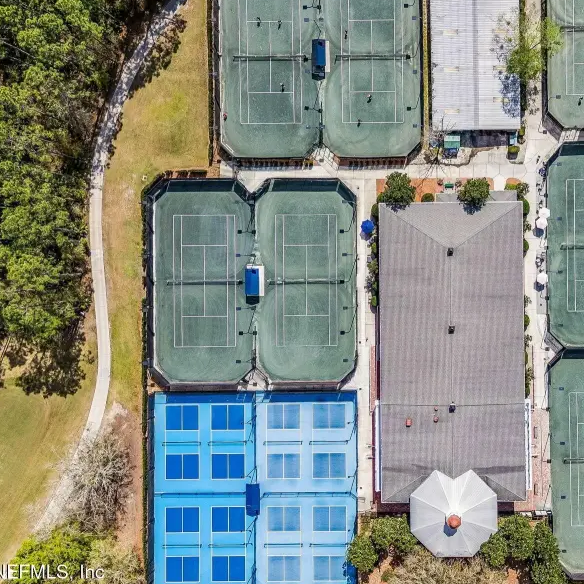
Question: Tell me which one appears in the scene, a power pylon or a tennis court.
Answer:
tennis court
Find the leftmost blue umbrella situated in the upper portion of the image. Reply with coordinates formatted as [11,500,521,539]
[361,220,375,234]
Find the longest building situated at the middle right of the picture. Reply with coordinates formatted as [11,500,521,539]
[378,191,527,503]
